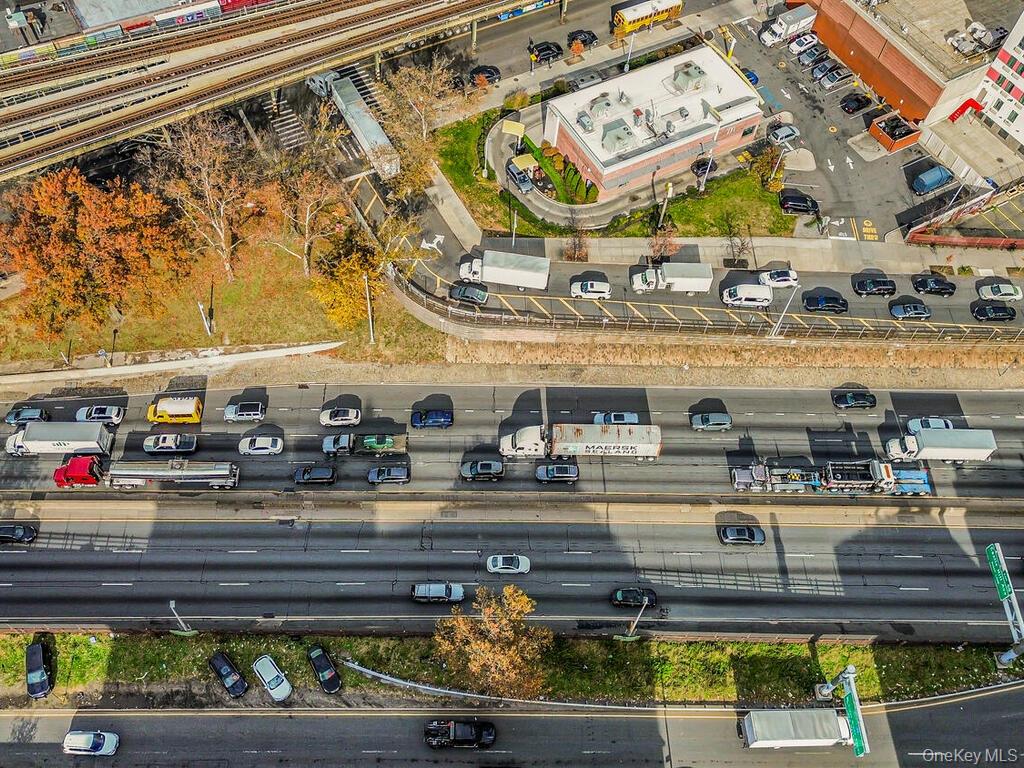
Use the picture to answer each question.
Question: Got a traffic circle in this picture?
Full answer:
No, there isn't any traffic circle down there.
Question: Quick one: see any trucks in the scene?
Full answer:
Yes, the photo shows a truck.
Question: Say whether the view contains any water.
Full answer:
No, the picture contains no water.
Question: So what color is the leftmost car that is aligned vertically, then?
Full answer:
The color of the leftmost car that is aligned vertically is black.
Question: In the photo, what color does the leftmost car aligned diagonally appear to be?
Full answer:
The leftmost car aligned diagonally is black.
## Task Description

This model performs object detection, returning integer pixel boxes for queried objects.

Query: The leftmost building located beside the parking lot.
[542,38,768,204]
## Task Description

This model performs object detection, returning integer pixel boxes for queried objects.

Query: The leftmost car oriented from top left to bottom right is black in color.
[207,649,249,699]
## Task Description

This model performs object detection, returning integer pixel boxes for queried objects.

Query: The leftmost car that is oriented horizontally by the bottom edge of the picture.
[62,730,121,755]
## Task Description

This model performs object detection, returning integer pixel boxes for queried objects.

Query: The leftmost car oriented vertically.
[23,639,51,699]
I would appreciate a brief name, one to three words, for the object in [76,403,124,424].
car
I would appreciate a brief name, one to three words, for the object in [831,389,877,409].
car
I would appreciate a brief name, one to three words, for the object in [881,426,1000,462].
truck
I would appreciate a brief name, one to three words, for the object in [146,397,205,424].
vehicle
